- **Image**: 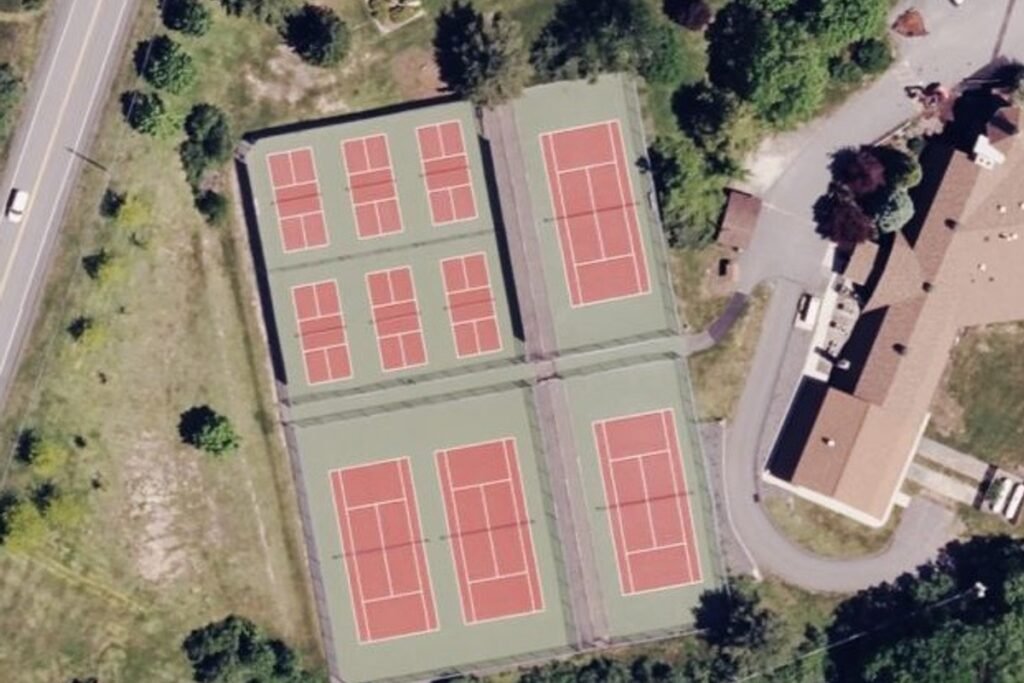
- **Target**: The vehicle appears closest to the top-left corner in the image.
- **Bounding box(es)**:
[7,189,30,224]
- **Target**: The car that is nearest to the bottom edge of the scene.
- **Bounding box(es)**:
[796,293,818,328]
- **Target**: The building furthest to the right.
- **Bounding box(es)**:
[792,100,1024,521]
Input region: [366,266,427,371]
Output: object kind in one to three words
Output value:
sports court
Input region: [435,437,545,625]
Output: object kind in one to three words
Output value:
tennis court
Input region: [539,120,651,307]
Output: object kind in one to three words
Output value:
tennis court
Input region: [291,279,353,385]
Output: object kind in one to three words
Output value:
sports court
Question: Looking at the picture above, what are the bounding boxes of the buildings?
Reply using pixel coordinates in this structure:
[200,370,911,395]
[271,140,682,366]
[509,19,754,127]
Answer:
[718,192,762,246]
[792,100,1024,521]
